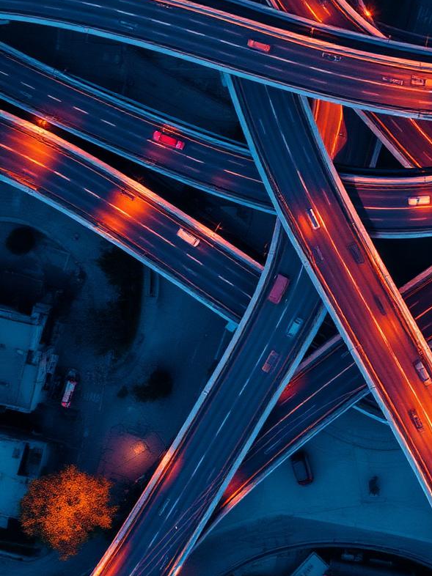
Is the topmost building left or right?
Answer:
left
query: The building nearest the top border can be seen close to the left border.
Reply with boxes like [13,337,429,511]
[0,294,65,408]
